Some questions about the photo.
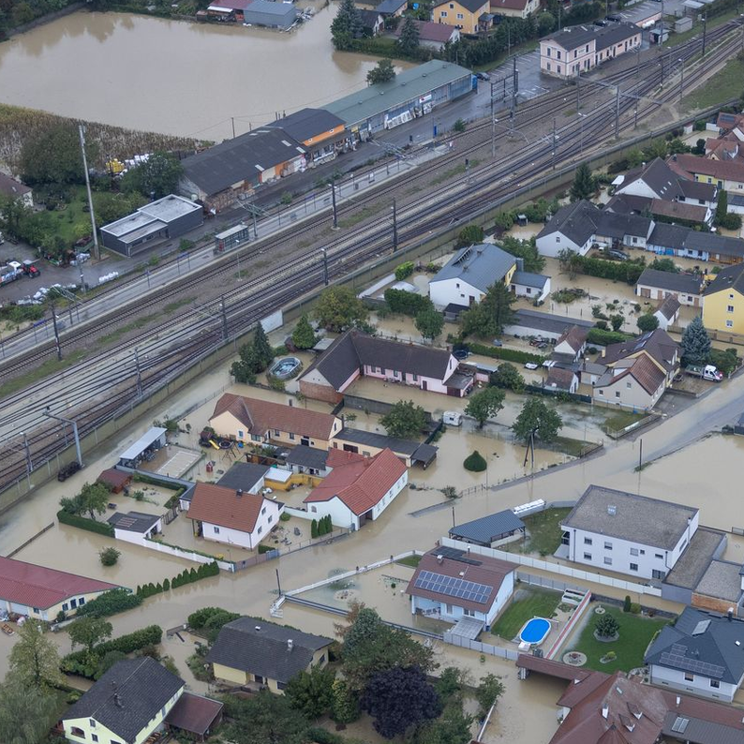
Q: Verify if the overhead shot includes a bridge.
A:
No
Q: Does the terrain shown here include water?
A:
Yes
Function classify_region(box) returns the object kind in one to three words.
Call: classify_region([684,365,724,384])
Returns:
vehicle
